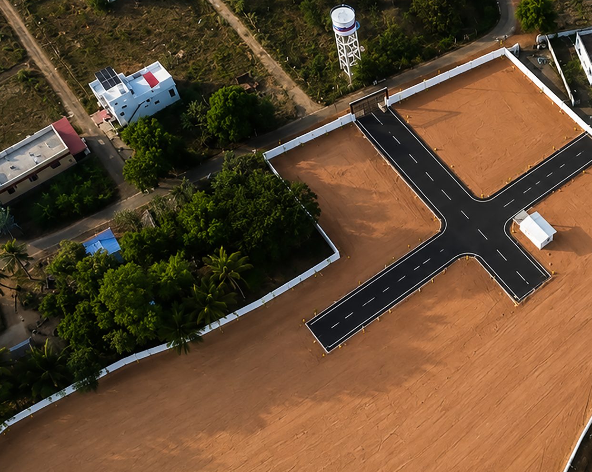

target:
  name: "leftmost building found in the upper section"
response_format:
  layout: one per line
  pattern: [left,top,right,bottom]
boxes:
[0,119,93,201]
